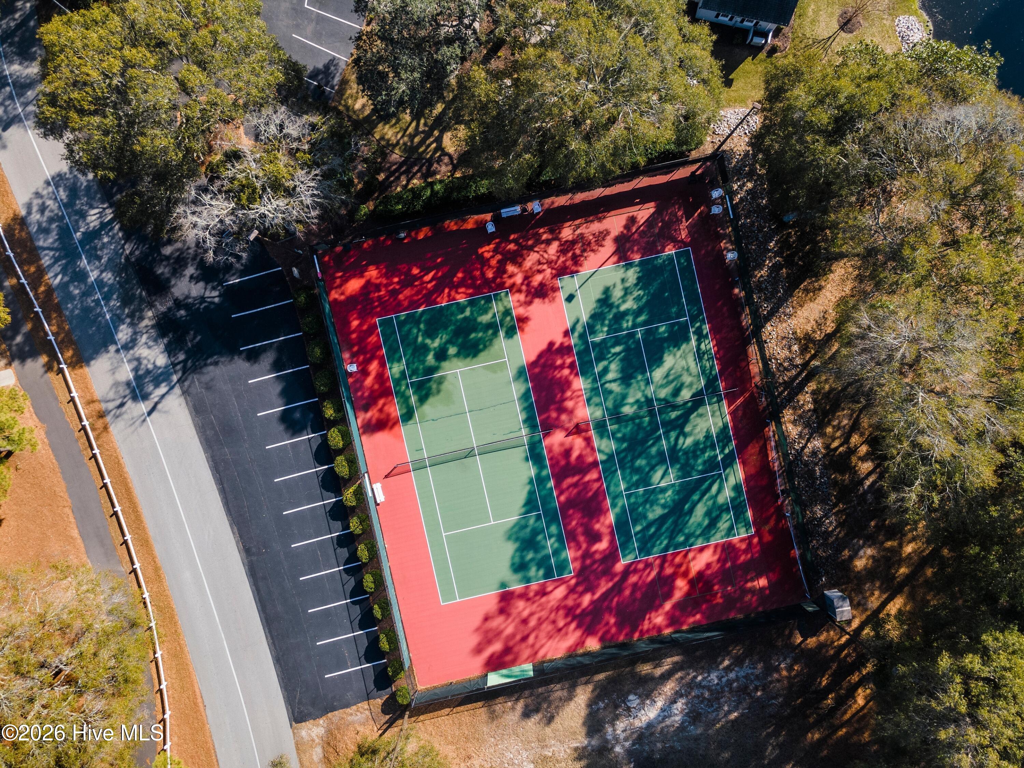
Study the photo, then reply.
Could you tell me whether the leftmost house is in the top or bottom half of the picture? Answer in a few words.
top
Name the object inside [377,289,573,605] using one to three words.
tennis court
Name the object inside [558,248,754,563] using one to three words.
tennis court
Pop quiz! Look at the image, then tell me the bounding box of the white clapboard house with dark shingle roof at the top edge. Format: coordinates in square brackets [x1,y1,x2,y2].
[697,0,801,54]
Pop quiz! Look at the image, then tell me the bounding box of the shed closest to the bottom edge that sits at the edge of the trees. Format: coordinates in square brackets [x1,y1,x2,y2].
[821,588,850,620]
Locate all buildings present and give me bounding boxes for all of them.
[697,0,801,54]
[821,588,850,620]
